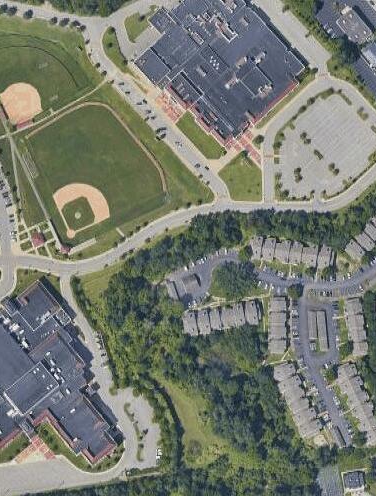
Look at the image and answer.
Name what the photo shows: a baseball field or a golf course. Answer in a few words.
baseball field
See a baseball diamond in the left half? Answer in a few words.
Yes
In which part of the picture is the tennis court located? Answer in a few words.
bottom right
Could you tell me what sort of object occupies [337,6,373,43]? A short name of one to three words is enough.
building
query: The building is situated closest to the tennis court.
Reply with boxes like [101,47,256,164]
[344,472,363,490]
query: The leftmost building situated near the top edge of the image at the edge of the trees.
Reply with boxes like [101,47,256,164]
[135,0,305,137]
